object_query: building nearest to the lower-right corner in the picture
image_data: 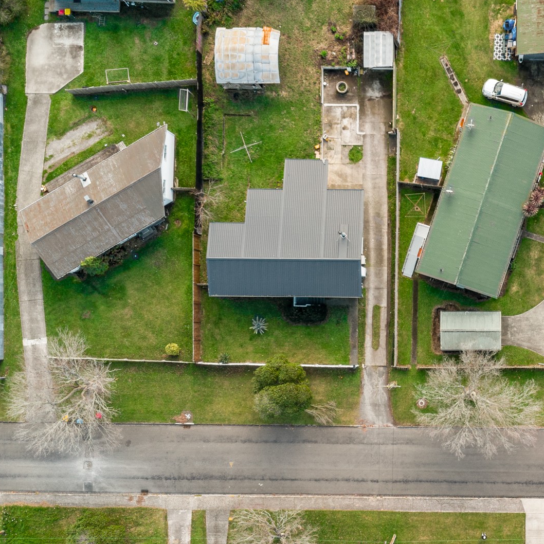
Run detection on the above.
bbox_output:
[440,310,502,351]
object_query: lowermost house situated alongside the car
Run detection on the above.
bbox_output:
[402,102,544,299]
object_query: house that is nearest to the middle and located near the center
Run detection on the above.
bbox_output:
[207,159,365,306]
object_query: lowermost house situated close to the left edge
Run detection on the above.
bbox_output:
[20,119,181,279]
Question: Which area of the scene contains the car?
top right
